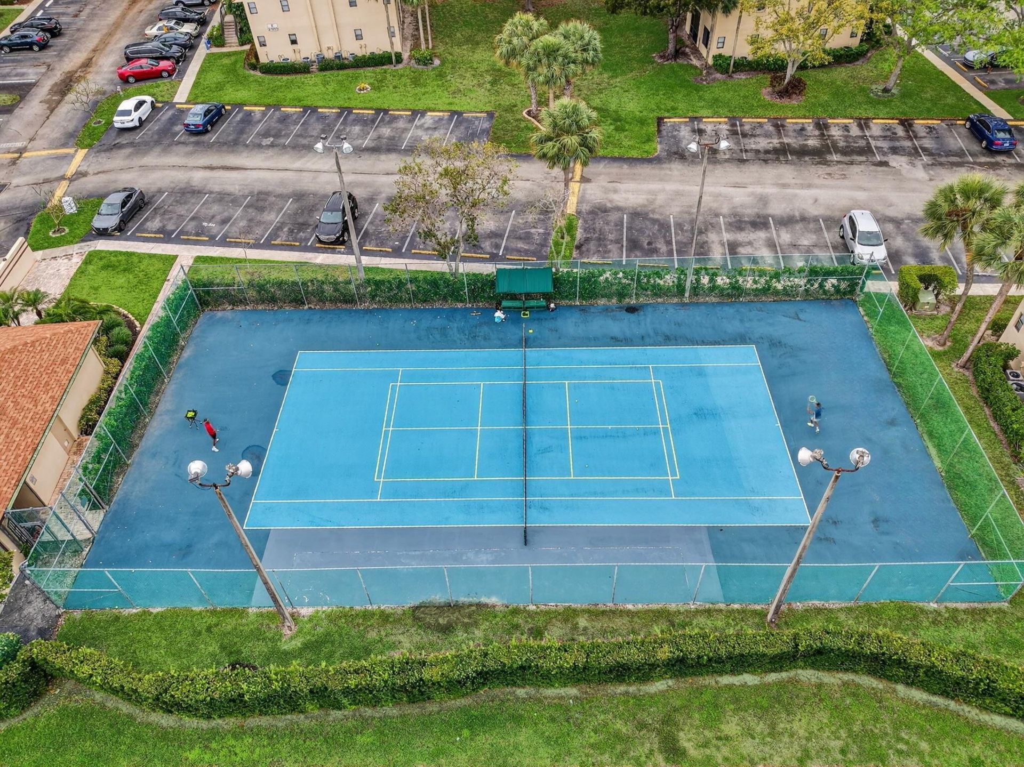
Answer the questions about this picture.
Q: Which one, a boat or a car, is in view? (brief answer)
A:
car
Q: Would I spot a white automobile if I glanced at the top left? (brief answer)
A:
Yes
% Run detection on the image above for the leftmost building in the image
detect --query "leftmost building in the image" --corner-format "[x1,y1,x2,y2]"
[0,321,105,543]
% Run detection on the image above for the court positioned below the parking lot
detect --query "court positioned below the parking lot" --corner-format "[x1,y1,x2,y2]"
[65,300,1000,606]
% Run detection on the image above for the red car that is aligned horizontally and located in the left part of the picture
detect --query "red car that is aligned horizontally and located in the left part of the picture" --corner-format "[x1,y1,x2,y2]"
[114,56,175,82]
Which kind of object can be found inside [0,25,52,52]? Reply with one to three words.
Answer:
car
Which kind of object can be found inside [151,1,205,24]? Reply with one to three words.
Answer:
car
